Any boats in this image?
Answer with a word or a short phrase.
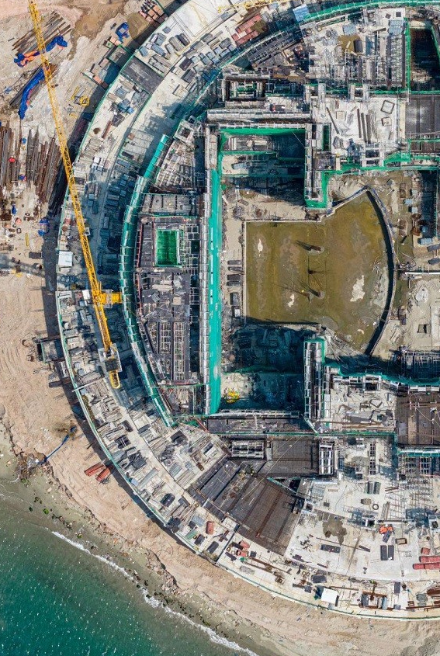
No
